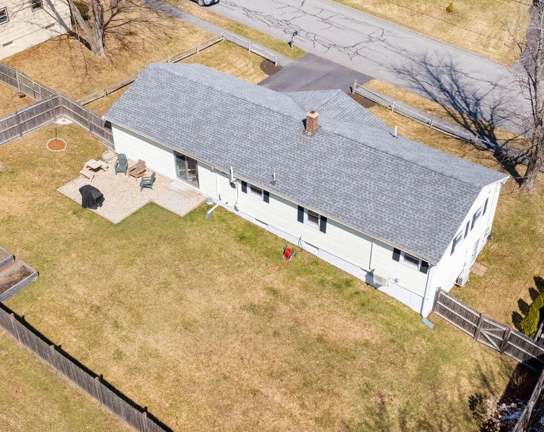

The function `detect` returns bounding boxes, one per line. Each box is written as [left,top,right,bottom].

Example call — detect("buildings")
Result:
[100,63,511,315]
[0,0,71,62]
